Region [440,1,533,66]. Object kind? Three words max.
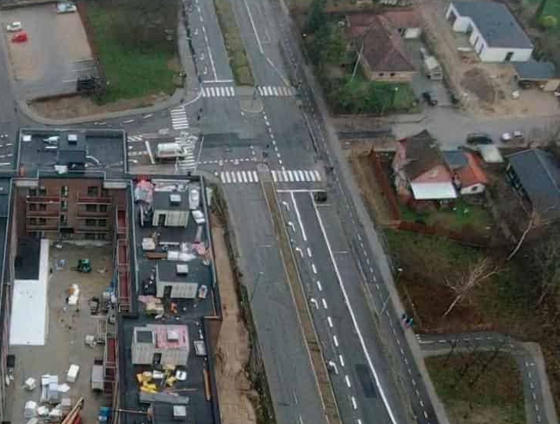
house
